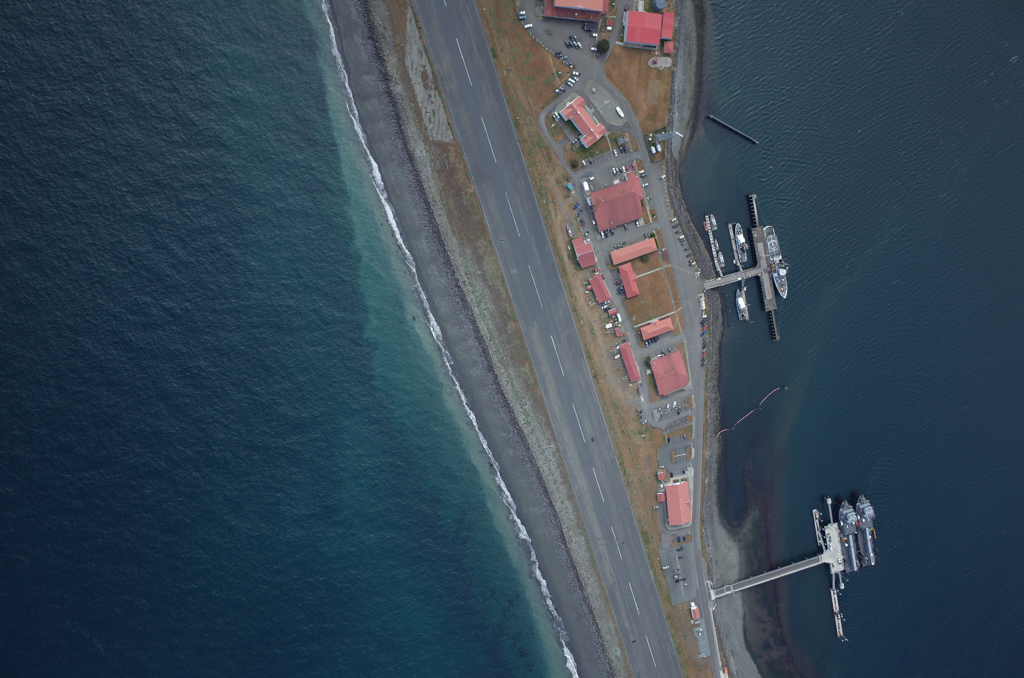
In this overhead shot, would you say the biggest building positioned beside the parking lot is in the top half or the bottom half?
bottom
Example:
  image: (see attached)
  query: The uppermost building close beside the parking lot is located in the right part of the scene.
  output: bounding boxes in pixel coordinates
[664,480,691,525]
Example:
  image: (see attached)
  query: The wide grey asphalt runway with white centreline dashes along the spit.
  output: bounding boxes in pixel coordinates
[413,0,685,678]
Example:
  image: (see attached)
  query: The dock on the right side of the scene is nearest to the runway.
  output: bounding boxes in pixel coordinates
[715,553,820,599]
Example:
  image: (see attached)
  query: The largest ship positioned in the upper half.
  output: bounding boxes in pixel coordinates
[764,226,791,298]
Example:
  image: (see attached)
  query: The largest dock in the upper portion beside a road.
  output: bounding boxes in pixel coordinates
[746,226,777,313]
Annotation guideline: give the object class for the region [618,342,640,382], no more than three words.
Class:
building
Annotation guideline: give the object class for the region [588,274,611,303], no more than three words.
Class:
building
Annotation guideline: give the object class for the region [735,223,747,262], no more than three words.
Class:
ship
